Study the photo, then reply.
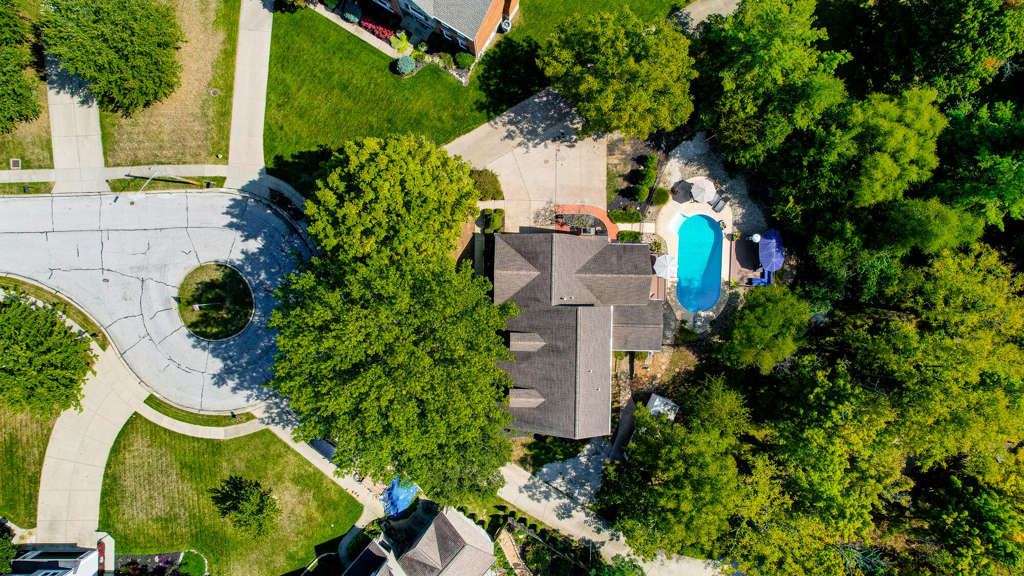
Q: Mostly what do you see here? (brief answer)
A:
trees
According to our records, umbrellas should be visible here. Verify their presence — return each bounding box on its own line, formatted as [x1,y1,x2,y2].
[652,254,678,280]
[690,178,716,204]
[760,229,785,291]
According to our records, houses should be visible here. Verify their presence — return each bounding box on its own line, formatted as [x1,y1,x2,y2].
[0,550,98,576]
[363,0,517,58]
[485,226,663,440]
[340,499,500,576]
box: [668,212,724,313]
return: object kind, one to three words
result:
swimming pool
